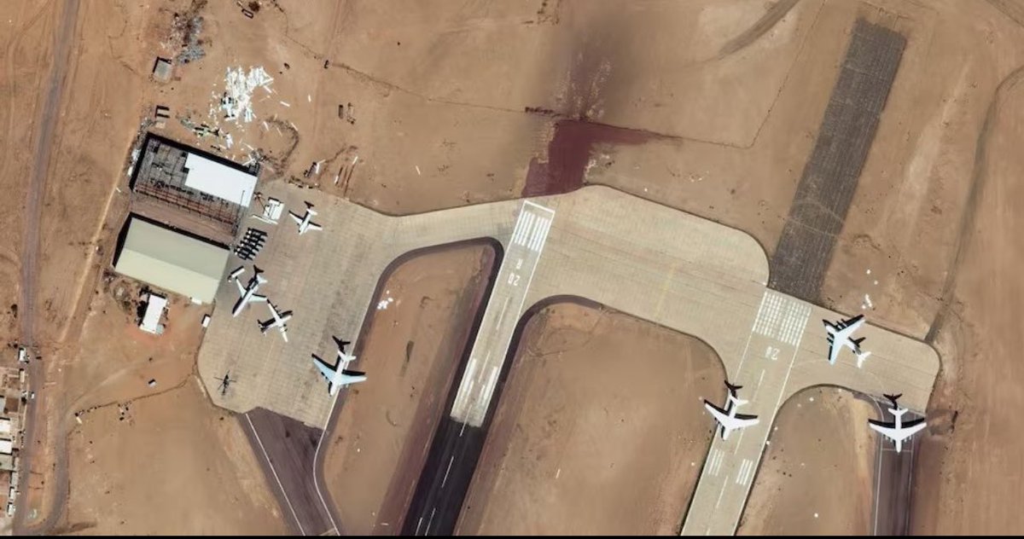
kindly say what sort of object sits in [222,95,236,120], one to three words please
airplane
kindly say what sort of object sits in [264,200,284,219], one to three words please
airplane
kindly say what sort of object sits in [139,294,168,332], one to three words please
house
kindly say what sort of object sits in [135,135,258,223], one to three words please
hangar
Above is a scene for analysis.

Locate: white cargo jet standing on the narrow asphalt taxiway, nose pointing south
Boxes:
[870,408,927,453]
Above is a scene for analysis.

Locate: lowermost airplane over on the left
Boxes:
[313,350,367,394]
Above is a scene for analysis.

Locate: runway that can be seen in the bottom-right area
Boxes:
[680,291,812,539]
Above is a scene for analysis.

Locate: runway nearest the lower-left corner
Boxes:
[398,200,556,539]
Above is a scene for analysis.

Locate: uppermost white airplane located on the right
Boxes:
[826,322,872,366]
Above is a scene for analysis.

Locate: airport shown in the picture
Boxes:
[198,18,940,539]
